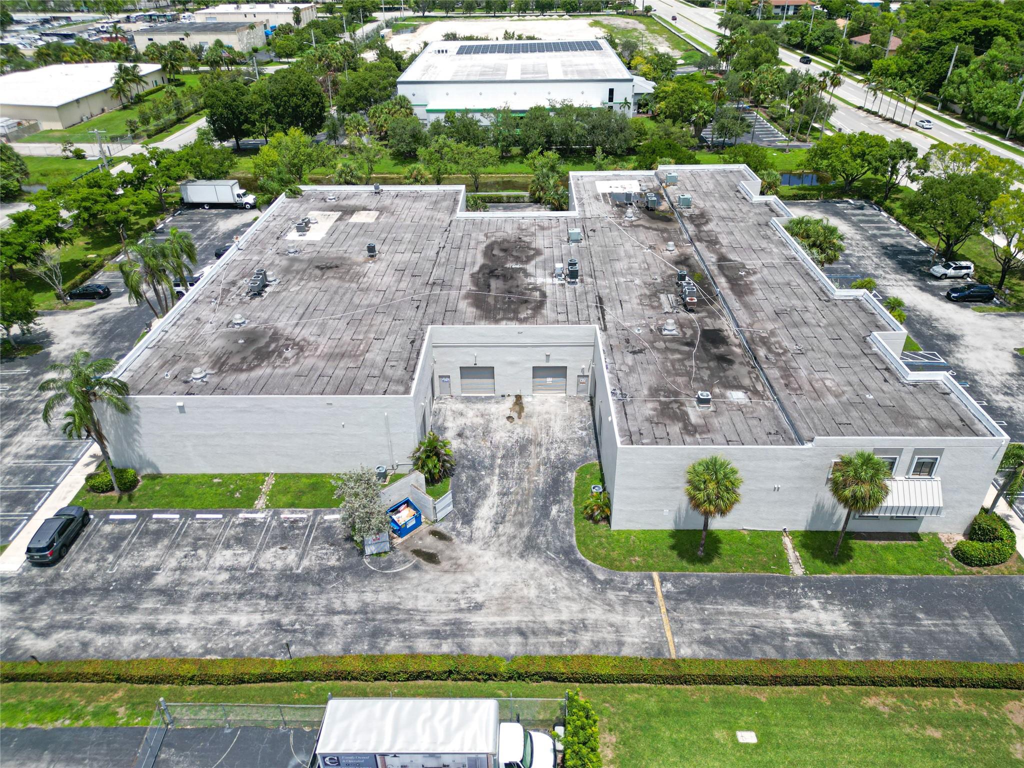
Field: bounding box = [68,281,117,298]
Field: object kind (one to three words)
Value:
car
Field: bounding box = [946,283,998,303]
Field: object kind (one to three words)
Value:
car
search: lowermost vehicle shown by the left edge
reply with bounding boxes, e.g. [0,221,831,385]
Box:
[32,503,101,559]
